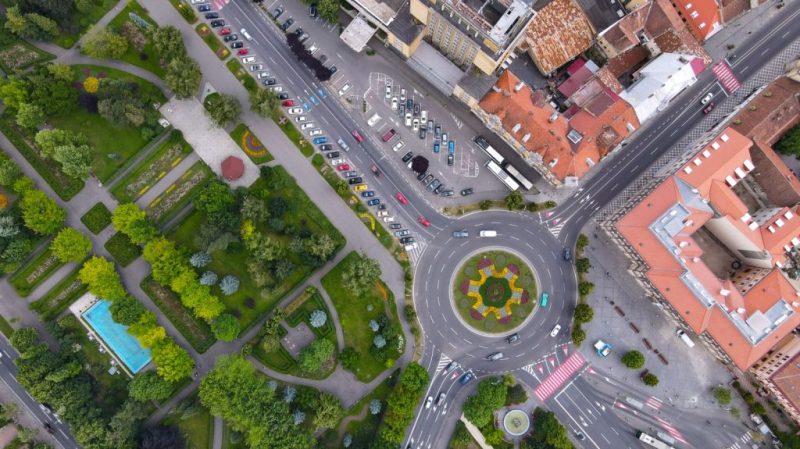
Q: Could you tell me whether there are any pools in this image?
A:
Yes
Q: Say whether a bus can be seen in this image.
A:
Yes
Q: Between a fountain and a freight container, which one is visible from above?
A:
fountain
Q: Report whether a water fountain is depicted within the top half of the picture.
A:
No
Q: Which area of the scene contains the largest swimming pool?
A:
bottom left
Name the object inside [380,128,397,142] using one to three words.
vehicle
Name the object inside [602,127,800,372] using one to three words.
building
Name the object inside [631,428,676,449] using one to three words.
bus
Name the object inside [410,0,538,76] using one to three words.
building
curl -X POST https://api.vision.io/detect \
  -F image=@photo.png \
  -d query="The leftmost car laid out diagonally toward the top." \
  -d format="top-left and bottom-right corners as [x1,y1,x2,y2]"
[239,27,253,42]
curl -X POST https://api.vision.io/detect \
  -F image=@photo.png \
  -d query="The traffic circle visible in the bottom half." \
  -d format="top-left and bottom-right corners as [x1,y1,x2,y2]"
[413,210,577,373]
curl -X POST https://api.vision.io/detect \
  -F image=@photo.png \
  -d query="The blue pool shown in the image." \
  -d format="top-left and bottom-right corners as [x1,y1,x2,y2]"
[68,290,159,377]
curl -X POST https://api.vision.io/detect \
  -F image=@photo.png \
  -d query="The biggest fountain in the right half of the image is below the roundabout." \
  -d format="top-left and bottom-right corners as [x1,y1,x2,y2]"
[505,410,530,436]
